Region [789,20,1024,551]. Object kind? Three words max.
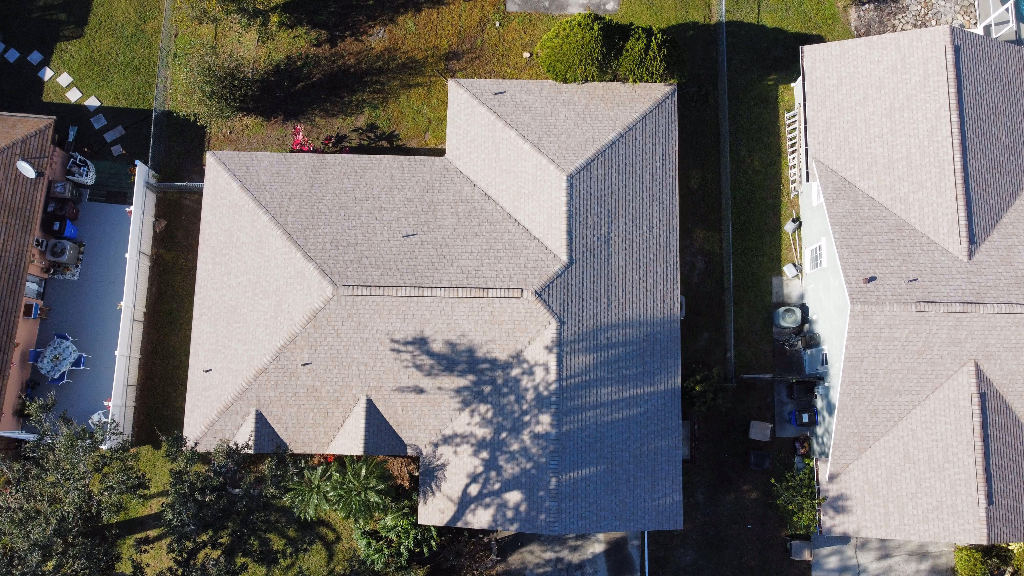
house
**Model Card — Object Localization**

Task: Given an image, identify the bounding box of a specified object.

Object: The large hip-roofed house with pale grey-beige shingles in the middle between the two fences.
[183,76,683,537]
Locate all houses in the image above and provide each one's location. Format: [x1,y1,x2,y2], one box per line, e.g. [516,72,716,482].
[0,109,68,456]
[789,20,1024,551]
[183,76,683,537]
